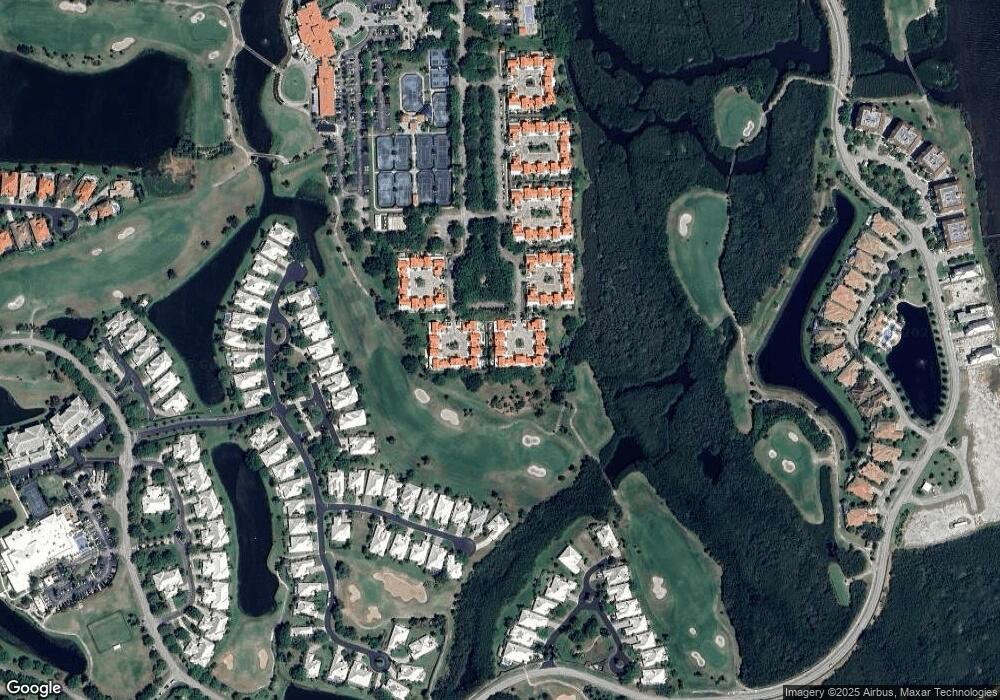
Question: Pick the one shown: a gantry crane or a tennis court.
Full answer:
Of the two, only a tennis court appears.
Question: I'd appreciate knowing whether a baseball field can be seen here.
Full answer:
No, I find no baseball field anywhere in the image.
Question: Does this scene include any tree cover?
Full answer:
Yes, there is tree cover in the image.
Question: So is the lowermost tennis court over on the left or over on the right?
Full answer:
The lowermost tennis court appears in the left half of the scene.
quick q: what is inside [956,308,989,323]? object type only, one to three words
house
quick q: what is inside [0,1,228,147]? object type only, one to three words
golf course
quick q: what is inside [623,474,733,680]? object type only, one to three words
golf course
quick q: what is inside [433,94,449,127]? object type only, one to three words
tennis court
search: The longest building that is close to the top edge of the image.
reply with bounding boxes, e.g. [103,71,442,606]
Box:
[293,2,342,118]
